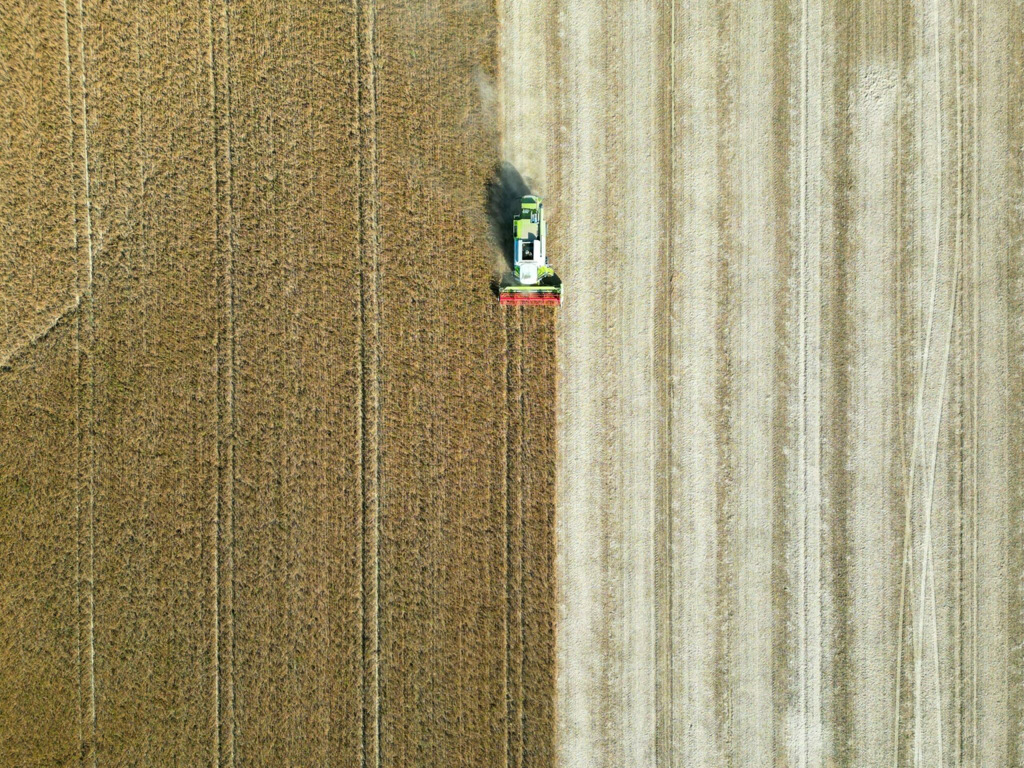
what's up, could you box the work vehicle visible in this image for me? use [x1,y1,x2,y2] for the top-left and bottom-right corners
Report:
[498,194,563,307]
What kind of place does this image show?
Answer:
farmland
